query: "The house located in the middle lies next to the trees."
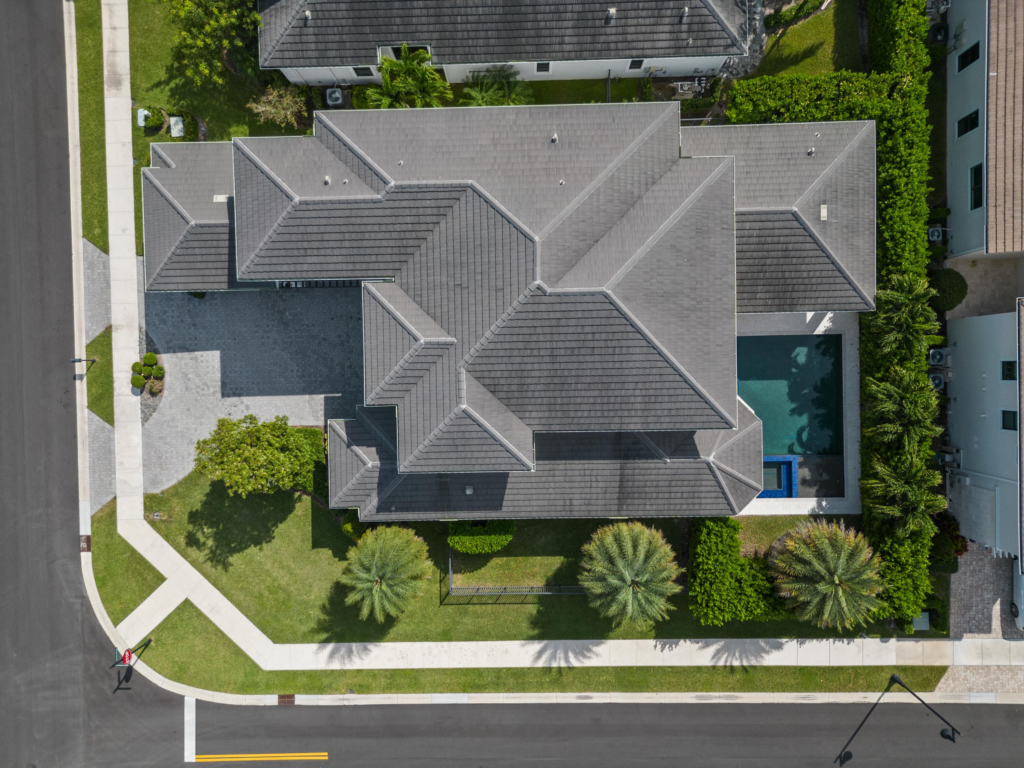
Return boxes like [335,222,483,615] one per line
[141,101,876,521]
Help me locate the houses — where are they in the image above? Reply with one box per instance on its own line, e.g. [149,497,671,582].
[948,298,1024,575]
[141,101,876,521]
[946,0,1024,260]
[258,0,748,87]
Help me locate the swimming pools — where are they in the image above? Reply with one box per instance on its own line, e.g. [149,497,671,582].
[738,328,851,505]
